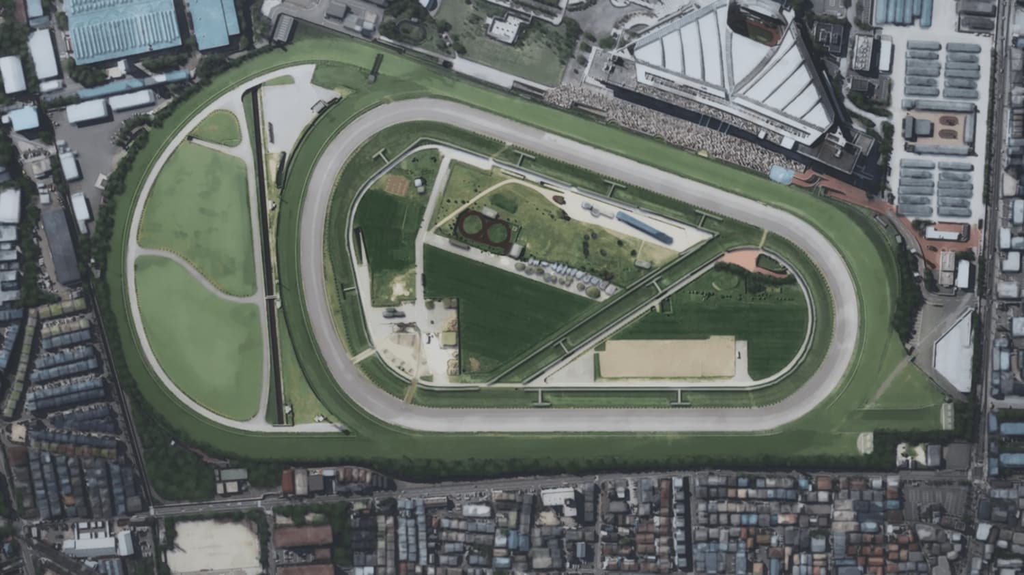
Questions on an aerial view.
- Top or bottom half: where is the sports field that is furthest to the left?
bottom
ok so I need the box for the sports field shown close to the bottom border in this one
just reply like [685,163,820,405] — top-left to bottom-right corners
[167,520,263,575]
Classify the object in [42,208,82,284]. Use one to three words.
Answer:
building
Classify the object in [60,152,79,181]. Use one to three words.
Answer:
building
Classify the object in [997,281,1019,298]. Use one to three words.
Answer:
house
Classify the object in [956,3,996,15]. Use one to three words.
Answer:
barn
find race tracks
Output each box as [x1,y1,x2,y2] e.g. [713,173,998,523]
[109,18,947,465]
